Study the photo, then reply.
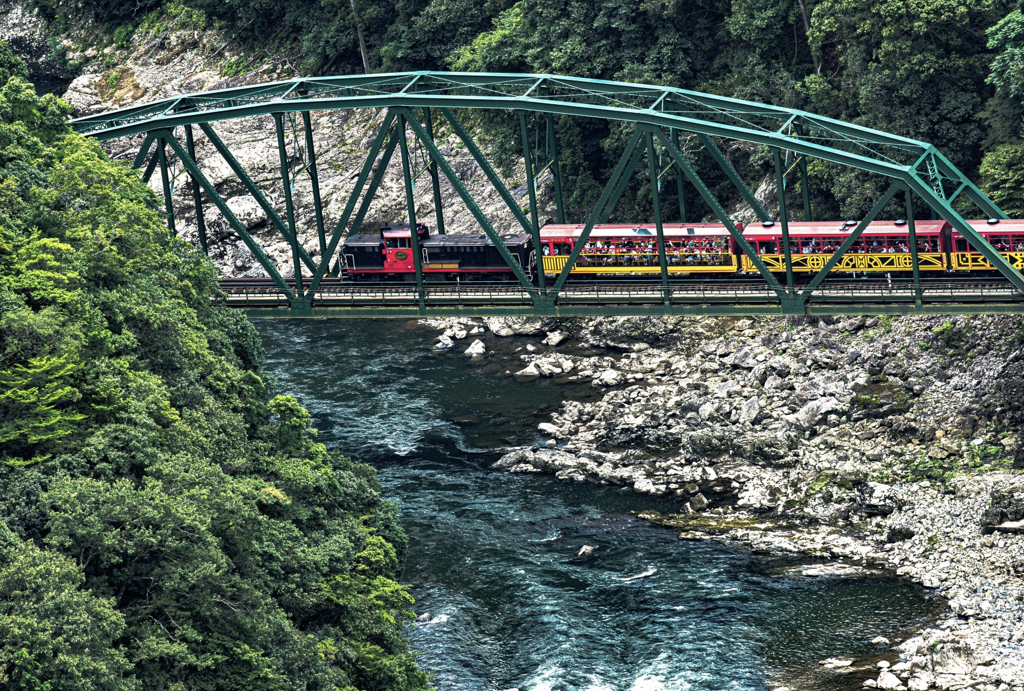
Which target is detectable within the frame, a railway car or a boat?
railway car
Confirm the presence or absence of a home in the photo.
No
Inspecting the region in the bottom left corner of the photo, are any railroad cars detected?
No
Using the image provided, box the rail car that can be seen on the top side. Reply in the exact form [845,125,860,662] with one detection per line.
[342,218,536,283]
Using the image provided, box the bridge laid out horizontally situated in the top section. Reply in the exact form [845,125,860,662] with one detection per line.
[74,74,1024,318]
